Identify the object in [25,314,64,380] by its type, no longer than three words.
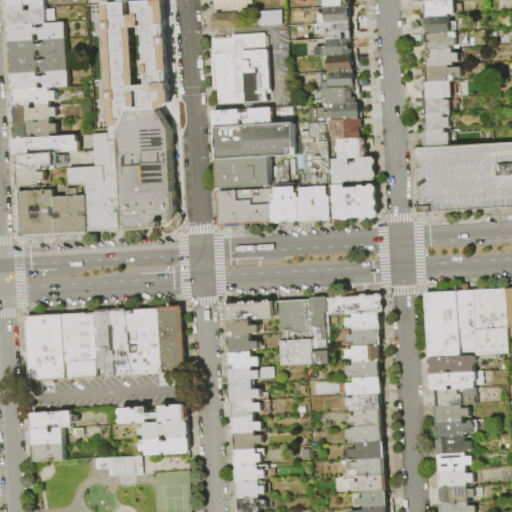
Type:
building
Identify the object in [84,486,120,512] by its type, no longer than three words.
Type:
playground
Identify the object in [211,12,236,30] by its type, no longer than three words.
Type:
house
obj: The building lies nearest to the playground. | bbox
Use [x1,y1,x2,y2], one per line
[96,456,144,478]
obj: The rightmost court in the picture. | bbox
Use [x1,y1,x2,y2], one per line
[156,471,192,512]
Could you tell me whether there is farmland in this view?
No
